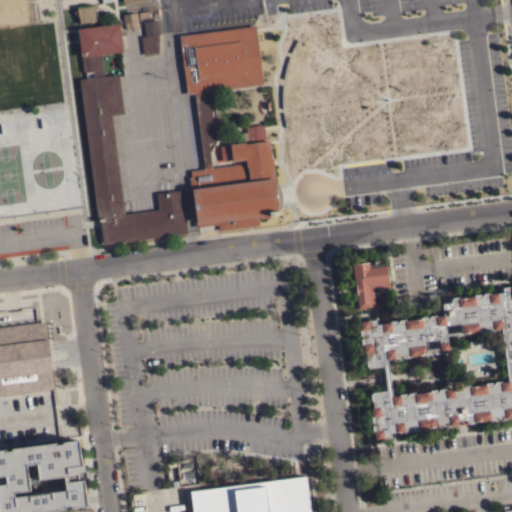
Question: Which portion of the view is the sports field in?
top left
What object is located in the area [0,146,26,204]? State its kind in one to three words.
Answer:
basketball court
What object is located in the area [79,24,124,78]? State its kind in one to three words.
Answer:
house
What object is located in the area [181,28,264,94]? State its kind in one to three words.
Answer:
building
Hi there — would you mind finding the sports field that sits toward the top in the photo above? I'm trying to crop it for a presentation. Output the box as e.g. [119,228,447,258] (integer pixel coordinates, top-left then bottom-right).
[0,24,63,110]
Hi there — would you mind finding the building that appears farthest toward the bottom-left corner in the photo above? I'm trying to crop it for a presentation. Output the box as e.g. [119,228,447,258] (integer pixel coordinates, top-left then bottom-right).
[0,441,87,512]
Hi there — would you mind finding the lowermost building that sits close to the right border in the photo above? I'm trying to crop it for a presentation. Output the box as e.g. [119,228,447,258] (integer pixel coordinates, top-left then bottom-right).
[372,382,512,442]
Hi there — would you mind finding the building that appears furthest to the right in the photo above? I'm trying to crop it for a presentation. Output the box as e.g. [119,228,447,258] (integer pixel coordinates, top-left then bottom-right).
[444,288,512,384]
